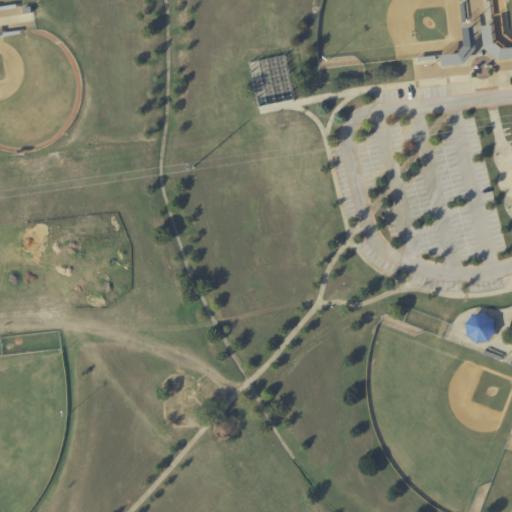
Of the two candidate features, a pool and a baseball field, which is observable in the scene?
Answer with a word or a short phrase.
baseball field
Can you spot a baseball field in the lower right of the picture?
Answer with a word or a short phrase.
Yes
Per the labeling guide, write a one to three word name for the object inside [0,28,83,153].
baseball field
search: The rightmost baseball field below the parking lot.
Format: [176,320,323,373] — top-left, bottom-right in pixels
[368,319,512,512]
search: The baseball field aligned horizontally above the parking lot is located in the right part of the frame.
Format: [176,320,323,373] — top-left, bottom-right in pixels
[319,0,461,66]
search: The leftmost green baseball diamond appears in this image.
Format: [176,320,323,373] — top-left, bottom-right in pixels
[0,332,66,512]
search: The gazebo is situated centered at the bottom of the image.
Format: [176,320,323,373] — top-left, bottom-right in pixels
[214,420,234,439]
